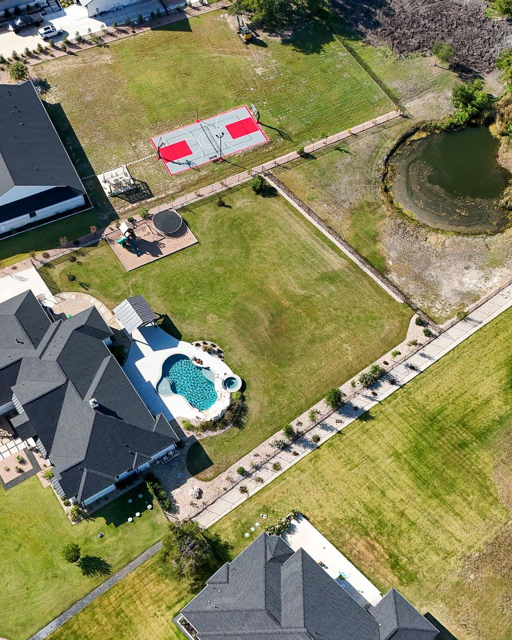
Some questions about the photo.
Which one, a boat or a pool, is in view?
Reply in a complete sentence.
It is a pool that can be seen here.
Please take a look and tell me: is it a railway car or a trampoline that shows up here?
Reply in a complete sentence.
This aerial view contains a trampoline.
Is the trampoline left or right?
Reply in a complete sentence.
It is on the left.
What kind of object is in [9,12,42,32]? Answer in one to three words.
vehicle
